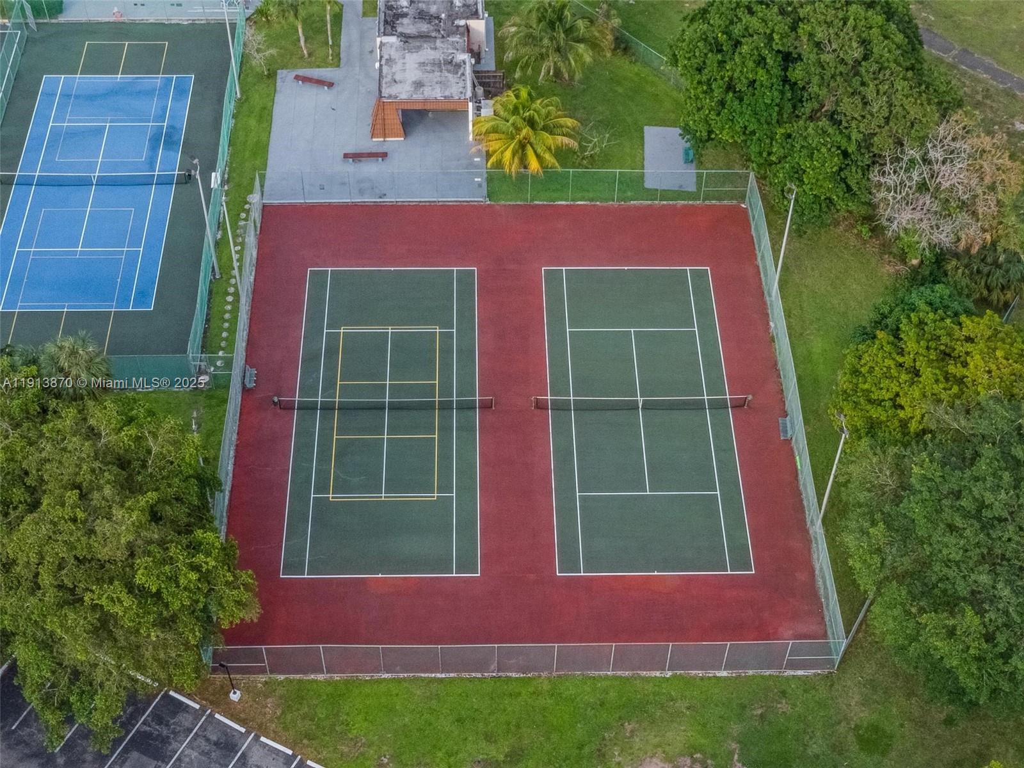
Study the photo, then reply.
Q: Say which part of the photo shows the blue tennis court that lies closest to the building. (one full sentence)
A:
The blue tennis court that lies closest to the building appears toward the top left of the photo.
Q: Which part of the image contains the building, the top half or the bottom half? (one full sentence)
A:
You can find the building in the top half.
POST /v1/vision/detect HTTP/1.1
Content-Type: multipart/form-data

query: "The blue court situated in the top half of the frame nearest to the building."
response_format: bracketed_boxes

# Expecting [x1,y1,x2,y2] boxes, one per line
[0,22,238,386]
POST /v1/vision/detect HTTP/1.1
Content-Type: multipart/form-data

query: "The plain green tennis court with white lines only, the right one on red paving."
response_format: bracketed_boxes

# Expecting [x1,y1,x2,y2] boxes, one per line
[542,267,755,574]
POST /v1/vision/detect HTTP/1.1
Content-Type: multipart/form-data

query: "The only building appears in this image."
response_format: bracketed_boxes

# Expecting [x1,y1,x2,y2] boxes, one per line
[370,0,488,140]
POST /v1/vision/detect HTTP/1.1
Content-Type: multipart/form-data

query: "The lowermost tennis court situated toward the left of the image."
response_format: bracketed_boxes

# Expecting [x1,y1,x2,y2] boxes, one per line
[280,268,480,577]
